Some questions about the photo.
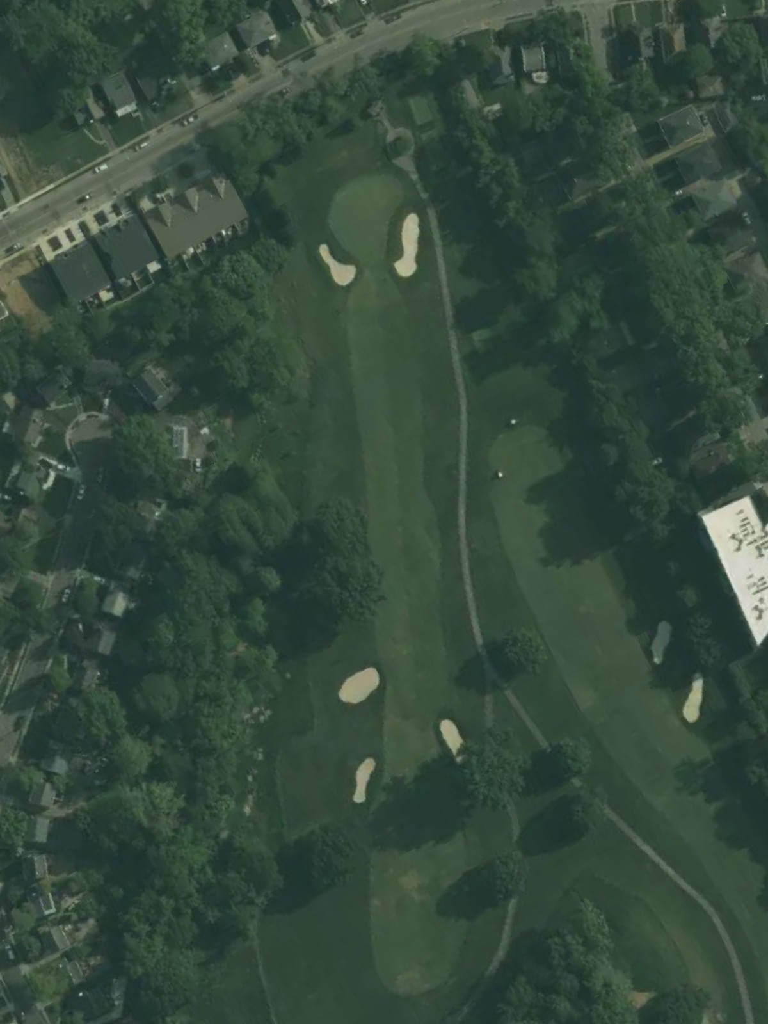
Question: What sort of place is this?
golf course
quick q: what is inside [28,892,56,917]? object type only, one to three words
house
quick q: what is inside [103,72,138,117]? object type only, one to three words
house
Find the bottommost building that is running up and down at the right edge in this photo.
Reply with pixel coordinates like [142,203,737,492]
[699,496,768,646]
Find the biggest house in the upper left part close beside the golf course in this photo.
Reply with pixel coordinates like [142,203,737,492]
[145,176,247,259]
